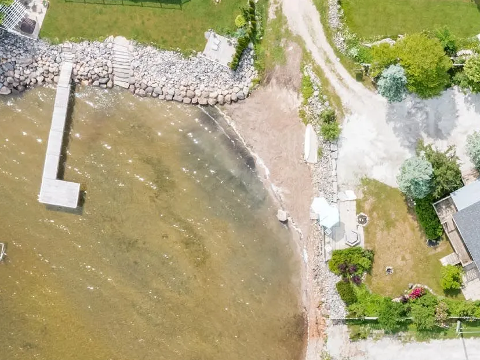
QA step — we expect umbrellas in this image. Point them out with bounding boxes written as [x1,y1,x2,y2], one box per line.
[318,208,340,230]
[310,198,333,218]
